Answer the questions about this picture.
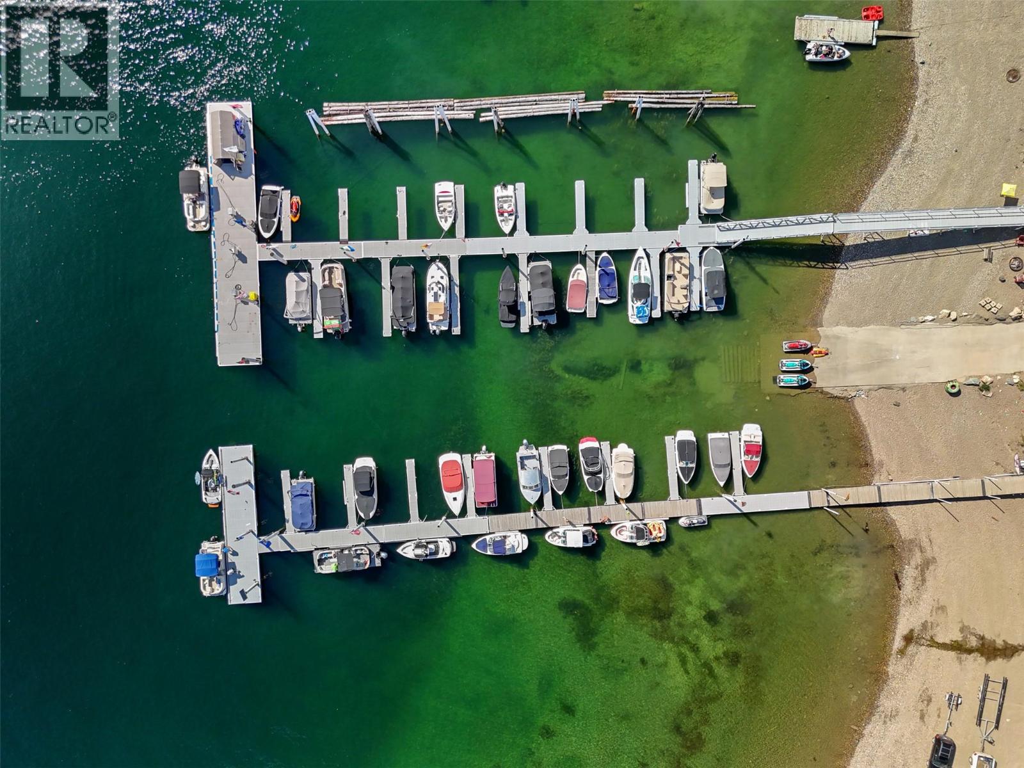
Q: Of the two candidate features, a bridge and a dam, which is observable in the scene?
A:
bridge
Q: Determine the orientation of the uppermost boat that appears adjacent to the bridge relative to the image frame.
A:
up and down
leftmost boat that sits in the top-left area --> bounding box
[179,157,212,232]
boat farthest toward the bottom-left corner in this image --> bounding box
[196,531,228,596]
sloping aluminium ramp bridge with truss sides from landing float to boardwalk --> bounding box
[715,210,841,245]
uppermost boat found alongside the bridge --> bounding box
[699,153,728,225]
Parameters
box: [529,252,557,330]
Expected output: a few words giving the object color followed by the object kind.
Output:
gray boat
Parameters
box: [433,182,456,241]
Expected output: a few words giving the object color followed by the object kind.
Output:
white boat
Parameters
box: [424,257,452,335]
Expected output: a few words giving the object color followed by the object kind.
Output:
white boat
